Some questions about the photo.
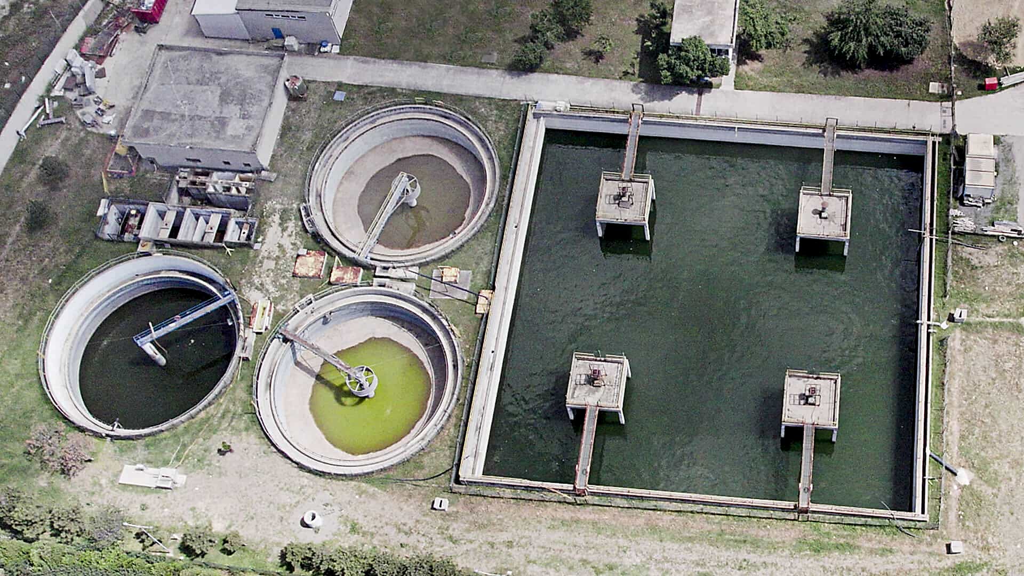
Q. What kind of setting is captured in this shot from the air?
industrial area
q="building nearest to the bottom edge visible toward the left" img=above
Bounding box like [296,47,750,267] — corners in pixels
[124,45,293,172]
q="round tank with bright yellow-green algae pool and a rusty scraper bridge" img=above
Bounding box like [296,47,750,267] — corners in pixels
[253,280,464,480]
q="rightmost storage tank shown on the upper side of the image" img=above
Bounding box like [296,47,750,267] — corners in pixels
[308,95,501,270]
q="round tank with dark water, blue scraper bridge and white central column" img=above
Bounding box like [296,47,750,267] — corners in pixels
[39,251,251,447]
